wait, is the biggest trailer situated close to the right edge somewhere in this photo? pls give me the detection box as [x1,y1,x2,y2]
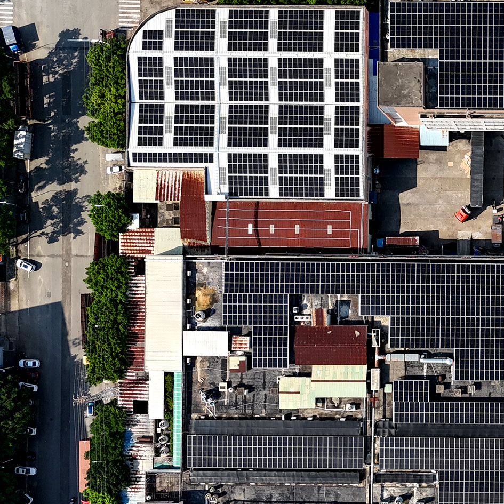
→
[471,131,484,208]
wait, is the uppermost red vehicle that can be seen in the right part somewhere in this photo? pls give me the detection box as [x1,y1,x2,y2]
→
[452,202,477,225]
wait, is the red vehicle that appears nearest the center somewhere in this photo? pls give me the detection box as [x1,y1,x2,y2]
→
[377,236,420,248]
